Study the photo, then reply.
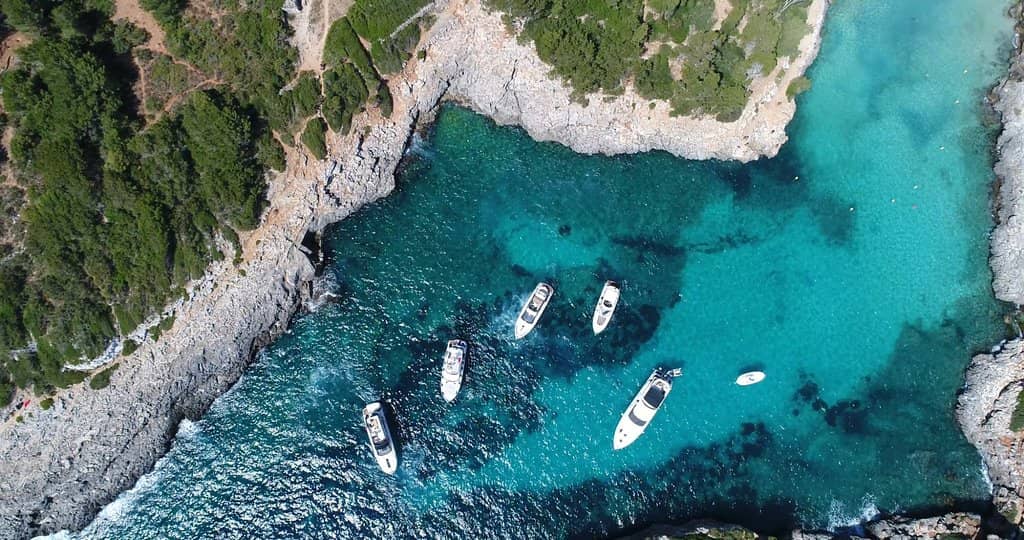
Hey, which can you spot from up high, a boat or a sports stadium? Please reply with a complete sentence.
It is a boat that can be seen here.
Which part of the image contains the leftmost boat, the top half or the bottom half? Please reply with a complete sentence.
It is in the bottom half that the leftmost boat appears.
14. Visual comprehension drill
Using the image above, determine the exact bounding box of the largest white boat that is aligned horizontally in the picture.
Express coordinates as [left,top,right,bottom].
[737,371,766,385]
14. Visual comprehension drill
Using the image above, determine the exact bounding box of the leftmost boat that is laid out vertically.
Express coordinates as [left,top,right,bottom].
[364,402,402,491]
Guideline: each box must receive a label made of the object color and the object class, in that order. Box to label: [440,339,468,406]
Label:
white boat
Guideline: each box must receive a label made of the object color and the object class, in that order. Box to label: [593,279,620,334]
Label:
white boat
